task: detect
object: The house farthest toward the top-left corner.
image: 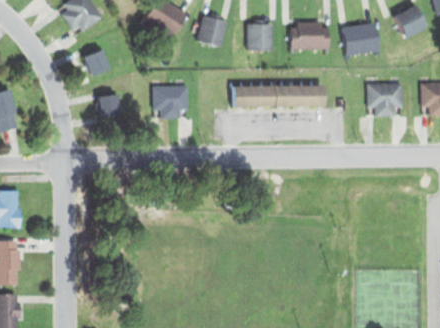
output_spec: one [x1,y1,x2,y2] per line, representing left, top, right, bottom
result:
[62,0,102,34]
